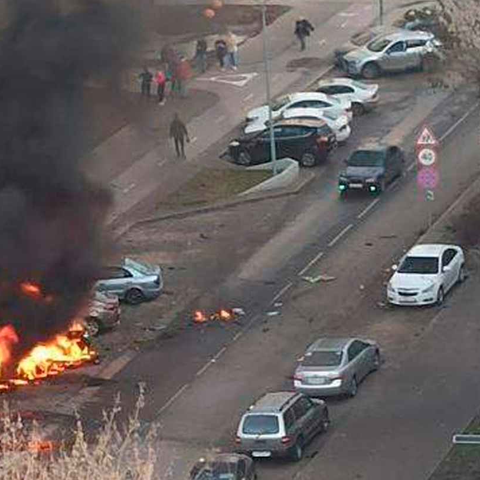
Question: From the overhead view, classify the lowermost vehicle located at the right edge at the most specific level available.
automobile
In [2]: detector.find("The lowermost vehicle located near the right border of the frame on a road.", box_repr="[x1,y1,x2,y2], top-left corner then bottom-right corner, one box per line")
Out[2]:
[386,239,467,302]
